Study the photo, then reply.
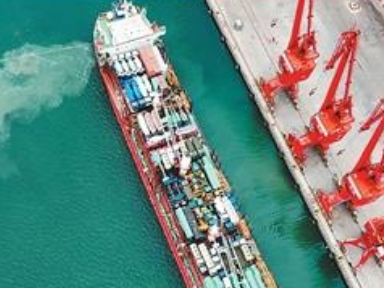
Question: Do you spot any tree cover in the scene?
No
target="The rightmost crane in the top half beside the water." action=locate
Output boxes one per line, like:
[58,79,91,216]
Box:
[284,26,365,163]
